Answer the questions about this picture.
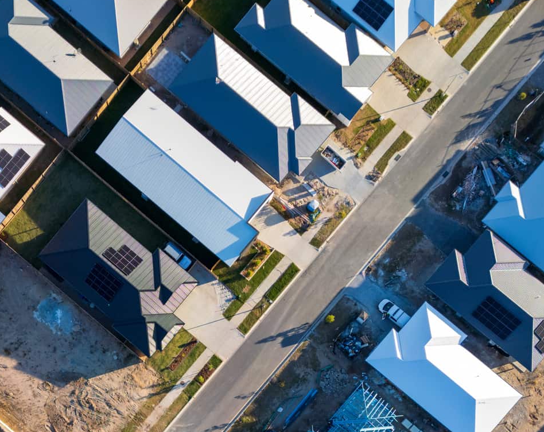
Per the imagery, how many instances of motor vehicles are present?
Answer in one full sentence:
The picture shows 2 motor vehicles.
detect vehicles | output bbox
[160,239,194,272]
[380,298,412,328]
